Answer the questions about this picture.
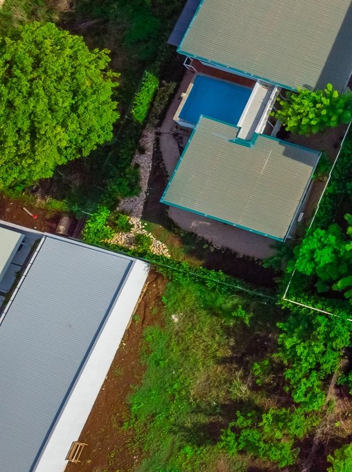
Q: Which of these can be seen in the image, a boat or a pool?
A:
pool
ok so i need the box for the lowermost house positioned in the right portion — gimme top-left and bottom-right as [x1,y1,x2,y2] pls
[157,113,326,246]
